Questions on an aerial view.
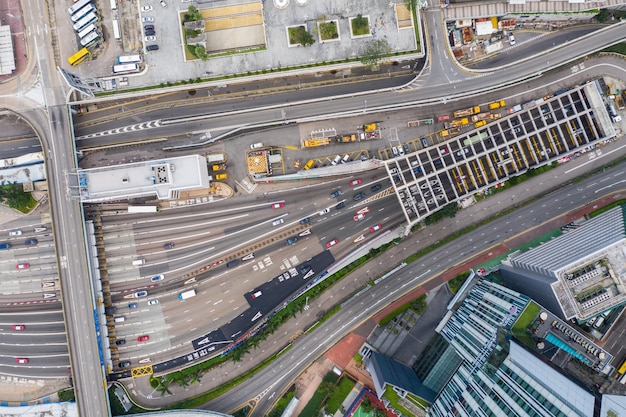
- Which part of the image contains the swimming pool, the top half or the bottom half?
bottom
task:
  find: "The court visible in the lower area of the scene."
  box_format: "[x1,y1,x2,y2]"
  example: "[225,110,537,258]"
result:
[349,386,390,417]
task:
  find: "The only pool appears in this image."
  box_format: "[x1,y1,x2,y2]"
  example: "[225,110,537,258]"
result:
[546,332,592,366]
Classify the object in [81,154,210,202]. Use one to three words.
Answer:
building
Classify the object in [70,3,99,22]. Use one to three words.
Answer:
vehicle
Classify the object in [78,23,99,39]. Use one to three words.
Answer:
vehicle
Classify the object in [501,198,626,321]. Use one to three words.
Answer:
building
